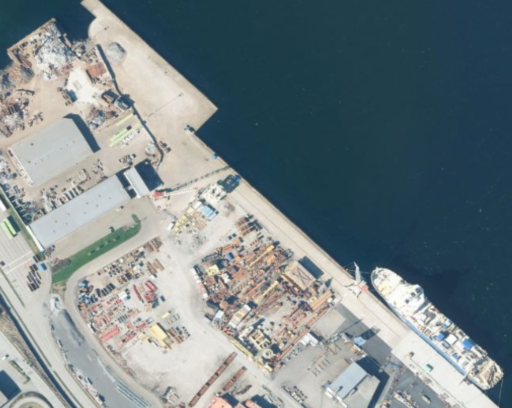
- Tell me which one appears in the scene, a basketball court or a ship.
ship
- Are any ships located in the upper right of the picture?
No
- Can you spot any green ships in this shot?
No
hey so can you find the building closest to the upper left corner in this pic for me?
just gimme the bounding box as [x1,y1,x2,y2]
[10,119,93,187]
